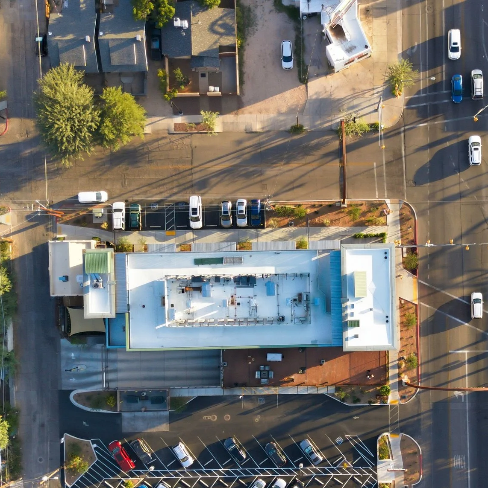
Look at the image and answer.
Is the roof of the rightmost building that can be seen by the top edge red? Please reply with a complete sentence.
No, from above the roof of the rightmost building that can be seen by the top edge looks white.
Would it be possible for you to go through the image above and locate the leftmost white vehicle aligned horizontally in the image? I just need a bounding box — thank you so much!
[77,190,108,203]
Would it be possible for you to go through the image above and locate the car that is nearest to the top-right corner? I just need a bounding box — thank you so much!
[447,28,462,59]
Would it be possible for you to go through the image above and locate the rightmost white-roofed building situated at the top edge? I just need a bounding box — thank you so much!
[321,0,370,70]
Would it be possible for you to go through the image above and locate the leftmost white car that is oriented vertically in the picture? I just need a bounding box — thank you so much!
[113,201,126,231]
